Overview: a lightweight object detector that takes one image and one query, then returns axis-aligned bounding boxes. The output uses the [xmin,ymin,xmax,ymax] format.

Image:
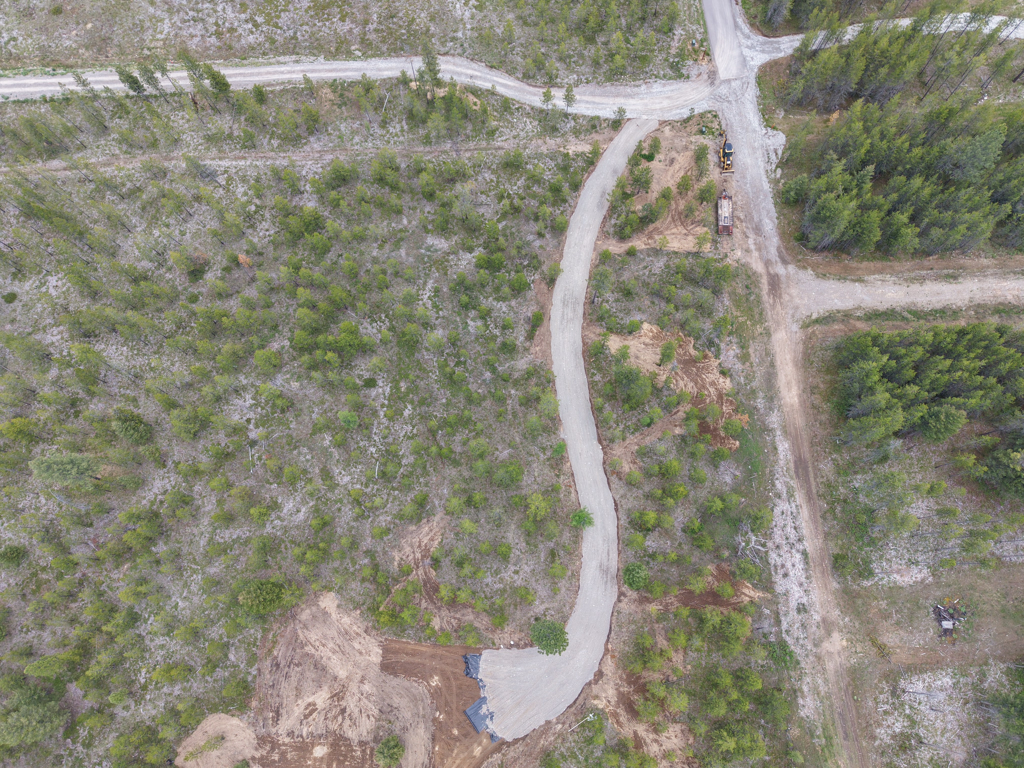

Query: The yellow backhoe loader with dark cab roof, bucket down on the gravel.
[717,130,736,179]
